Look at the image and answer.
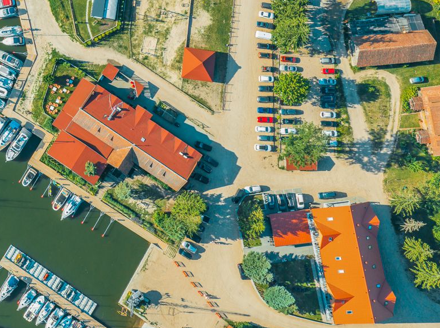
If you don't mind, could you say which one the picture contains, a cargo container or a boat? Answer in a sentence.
There is a boat in the scene.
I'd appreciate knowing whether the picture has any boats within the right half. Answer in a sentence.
No, the scene shows no boat within the right half.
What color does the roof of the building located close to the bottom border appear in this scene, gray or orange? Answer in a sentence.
The roof of the building located close to the bottom border looks orange in the image.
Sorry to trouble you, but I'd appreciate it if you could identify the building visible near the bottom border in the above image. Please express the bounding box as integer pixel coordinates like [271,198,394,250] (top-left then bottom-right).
[294,201,401,324]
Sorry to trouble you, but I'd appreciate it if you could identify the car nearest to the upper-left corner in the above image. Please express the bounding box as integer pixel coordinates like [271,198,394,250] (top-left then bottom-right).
[193,140,211,152]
